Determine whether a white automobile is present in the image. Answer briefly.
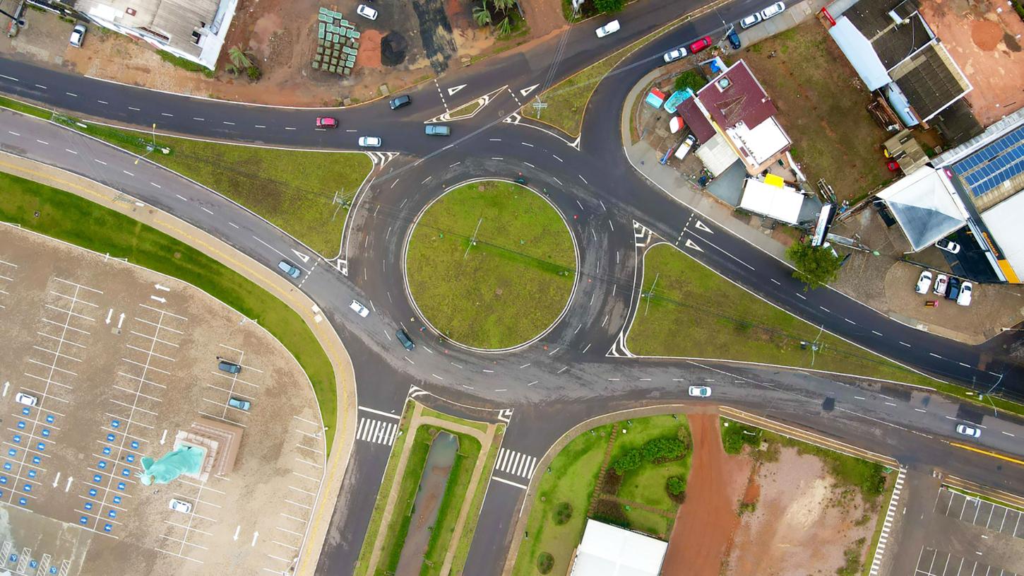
Yes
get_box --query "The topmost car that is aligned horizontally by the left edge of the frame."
[13,394,36,406]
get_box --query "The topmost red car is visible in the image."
[689,35,714,52]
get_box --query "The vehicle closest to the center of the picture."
[395,328,413,350]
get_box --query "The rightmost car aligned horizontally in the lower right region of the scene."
[958,424,982,437]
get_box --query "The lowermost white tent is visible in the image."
[572,519,668,576]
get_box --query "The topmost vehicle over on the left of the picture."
[355,3,378,19]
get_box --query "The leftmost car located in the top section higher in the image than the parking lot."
[67,22,84,47]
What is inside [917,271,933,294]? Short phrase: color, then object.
white car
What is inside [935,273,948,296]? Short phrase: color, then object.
white vehicle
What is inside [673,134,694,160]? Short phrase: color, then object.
white vehicle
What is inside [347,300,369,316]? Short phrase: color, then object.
white car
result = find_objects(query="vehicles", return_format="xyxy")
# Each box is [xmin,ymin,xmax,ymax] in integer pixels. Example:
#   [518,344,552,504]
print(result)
[673,134,694,160]
[937,238,962,253]
[347,300,369,316]
[728,27,741,49]
[689,35,714,52]
[740,11,762,27]
[388,94,410,108]
[13,394,36,406]
[917,271,933,294]
[169,501,190,513]
[760,0,787,18]
[315,116,336,127]
[886,160,899,169]
[949,277,961,301]
[395,328,413,350]
[67,22,84,47]
[935,273,948,296]
[880,203,900,230]
[276,260,299,277]
[958,424,982,437]
[216,361,239,373]
[689,386,711,397]
[595,20,619,36]
[425,124,449,135]
[358,135,379,146]
[663,47,688,61]
[355,3,378,19]
[959,281,975,306]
